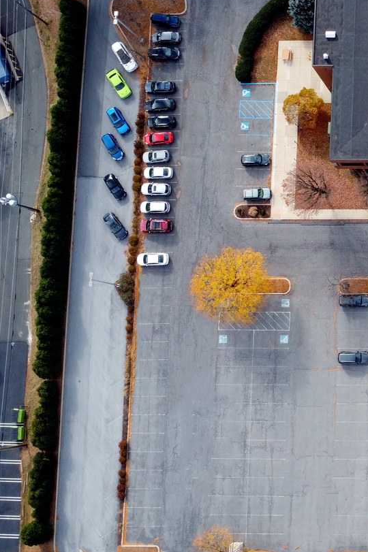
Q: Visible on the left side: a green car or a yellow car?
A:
green car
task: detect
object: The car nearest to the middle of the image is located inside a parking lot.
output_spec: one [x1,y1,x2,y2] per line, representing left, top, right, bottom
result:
[138,253,170,266]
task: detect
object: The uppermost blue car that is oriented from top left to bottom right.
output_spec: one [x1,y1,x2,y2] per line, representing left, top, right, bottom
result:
[107,105,131,135]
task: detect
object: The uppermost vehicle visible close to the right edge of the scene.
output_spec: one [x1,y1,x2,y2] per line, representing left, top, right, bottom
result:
[339,293,368,309]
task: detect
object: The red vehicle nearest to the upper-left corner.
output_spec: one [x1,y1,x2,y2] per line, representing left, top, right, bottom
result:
[145,132,175,145]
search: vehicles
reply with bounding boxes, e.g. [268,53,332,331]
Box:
[138,253,170,266]
[141,218,175,233]
[107,105,131,135]
[140,200,171,214]
[240,153,271,168]
[101,132,123,162]
[339,293,368,309]
[114,42,137,72]
[242,187,272,200]
[144,166,175,180]
[141,183,173,196]
[337,351,368,366]
[145,132,175,145]
[147,115,177,129]
[150,13,181,28]
[103,211,128,242]
[153,31,182,44]
[149,47,181,61]
[108,69,131,98]
[144,150,171,163]
[103,172,127,202]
